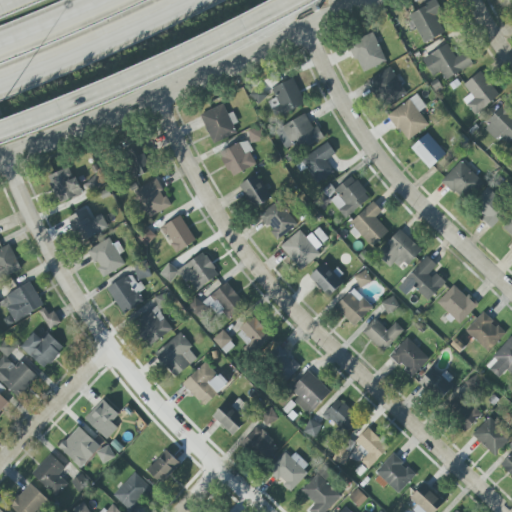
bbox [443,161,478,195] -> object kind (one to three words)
house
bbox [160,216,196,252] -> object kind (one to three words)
house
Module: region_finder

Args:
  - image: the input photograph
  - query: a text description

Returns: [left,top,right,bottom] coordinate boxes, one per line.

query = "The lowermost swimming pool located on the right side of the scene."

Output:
[437,348,453,370]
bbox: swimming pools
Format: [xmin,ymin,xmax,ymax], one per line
[360,281,385,302]
[340,252,352,264]
[352,240,364,252]
[122,431,133,442]
[437,348,453,370]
